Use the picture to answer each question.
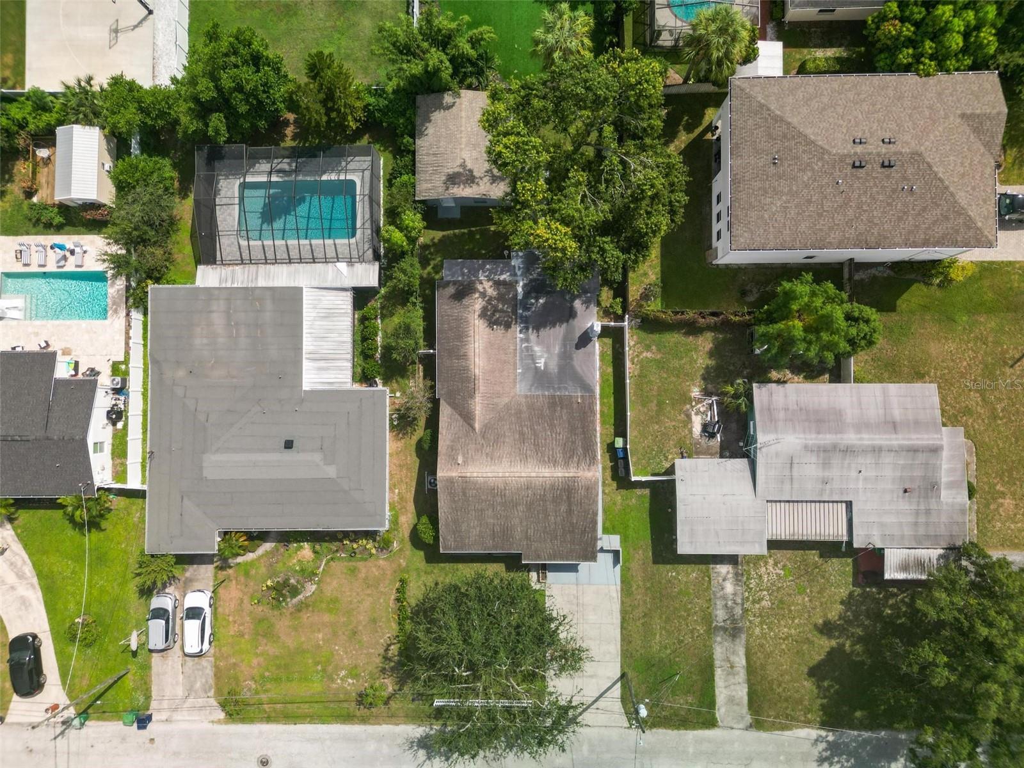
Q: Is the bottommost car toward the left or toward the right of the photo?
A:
left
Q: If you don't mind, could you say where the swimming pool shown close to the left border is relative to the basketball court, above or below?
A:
below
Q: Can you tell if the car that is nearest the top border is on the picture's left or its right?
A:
right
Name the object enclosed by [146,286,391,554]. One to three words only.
house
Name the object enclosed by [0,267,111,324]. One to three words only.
swimming pool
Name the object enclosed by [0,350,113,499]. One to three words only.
house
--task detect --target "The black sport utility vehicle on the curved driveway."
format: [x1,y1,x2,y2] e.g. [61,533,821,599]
[1,631,43,698]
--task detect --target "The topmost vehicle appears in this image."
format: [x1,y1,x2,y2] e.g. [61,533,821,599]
[999,188,1024,218]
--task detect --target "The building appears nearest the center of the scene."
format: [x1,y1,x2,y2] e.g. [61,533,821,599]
[436,250,600,563]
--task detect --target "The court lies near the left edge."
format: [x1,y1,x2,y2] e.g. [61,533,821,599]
[26,0,154,90]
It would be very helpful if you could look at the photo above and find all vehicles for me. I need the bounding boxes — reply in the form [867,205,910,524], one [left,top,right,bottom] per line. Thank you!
[999,188,1024,218]
[1,631,43,698]
[142,593,176,653]
[179,589,212,654]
